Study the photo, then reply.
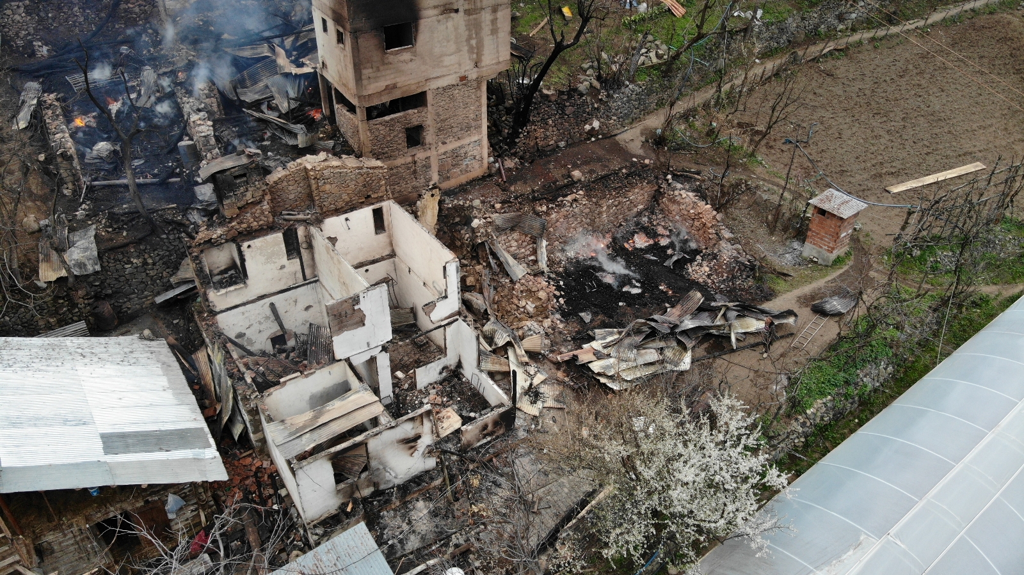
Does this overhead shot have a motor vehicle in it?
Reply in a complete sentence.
No, no motor vehicle is visible in the scene.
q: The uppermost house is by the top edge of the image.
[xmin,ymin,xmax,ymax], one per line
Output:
[310,0,511,190]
